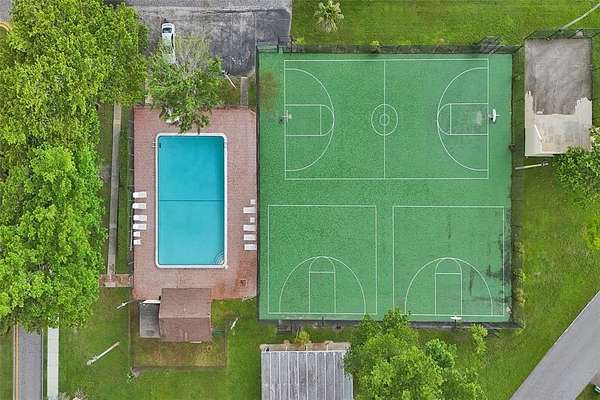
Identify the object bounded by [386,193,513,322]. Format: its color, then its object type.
green basketball court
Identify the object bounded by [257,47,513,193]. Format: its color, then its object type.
green basketball court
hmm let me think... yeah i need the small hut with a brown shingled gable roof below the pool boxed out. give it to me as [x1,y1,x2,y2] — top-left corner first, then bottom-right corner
[156,287,213,343]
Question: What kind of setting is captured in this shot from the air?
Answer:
sports ground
